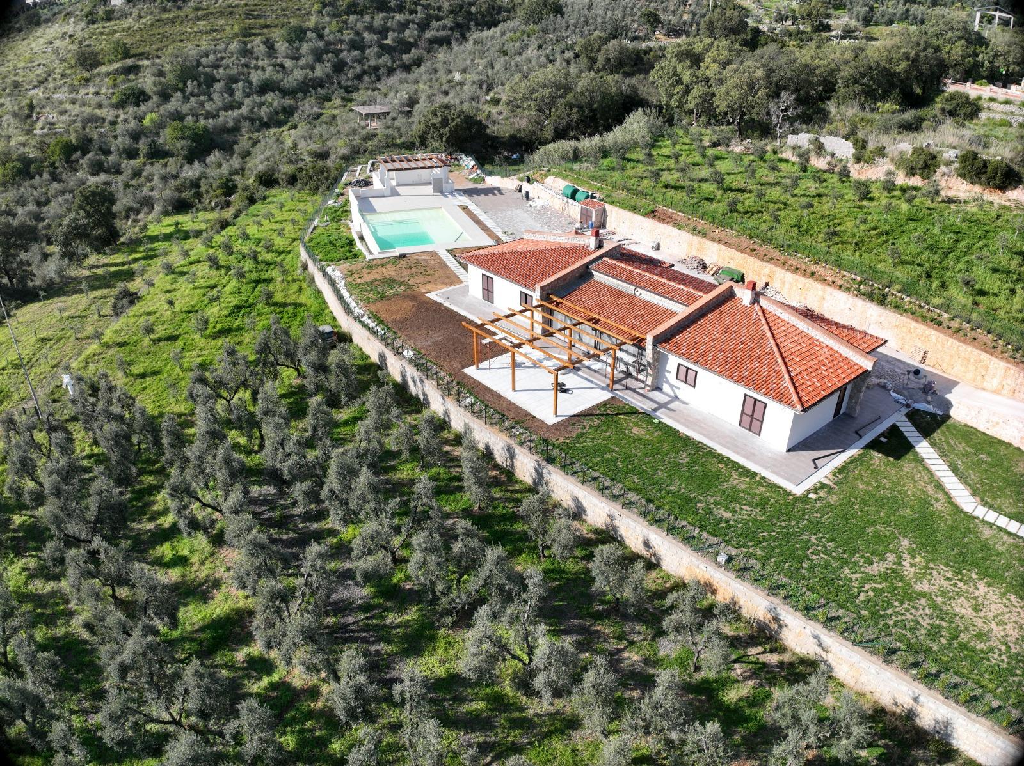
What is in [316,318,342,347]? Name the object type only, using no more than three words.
car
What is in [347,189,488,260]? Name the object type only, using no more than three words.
swimming pool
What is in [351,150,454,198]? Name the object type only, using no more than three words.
building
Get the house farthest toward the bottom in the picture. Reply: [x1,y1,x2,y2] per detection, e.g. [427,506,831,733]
[457,229,891,451]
